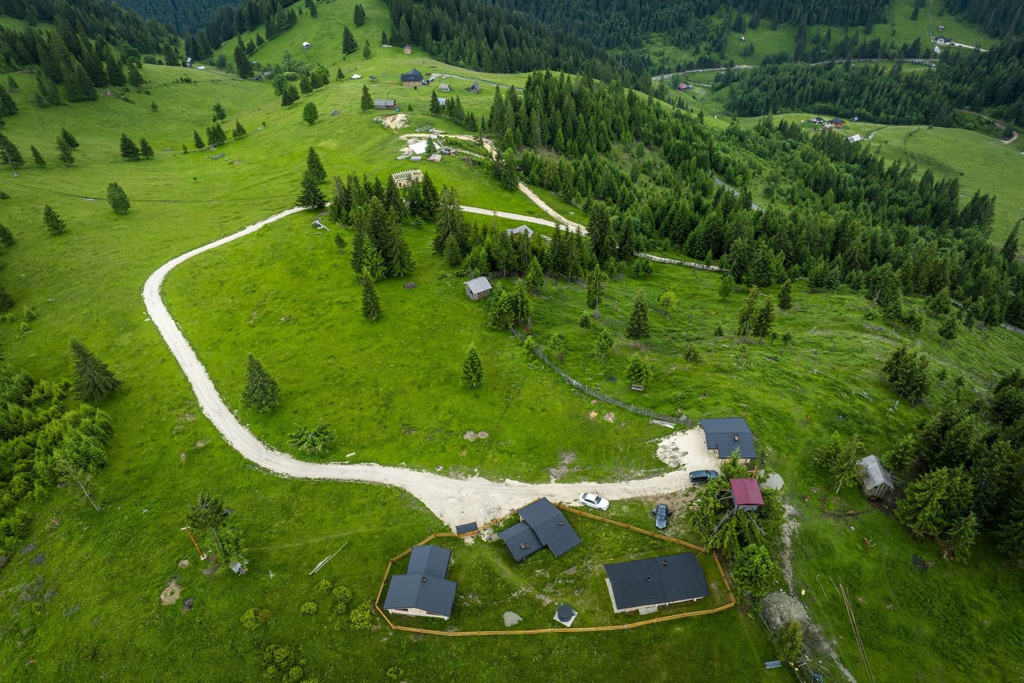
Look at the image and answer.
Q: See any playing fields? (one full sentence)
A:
No, there's no playing field here.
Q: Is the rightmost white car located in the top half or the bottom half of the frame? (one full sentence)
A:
You can find the rightmost white car in the bottom half.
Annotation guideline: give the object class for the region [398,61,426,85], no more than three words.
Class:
house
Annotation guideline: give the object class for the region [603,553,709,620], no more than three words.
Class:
building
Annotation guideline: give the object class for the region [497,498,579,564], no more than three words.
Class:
building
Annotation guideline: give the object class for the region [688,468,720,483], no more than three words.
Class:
car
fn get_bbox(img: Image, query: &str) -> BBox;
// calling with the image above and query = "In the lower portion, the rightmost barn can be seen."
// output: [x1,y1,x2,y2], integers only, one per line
[860,454,904,499]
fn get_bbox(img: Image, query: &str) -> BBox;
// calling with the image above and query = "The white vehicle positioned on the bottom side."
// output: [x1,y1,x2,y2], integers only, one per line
[578,490,611,512]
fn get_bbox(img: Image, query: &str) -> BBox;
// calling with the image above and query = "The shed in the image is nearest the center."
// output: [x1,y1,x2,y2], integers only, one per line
[466,280,492,301]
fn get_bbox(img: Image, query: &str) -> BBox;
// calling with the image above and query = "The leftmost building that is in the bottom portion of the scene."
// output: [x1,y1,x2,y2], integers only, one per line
[381,545,457,624]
